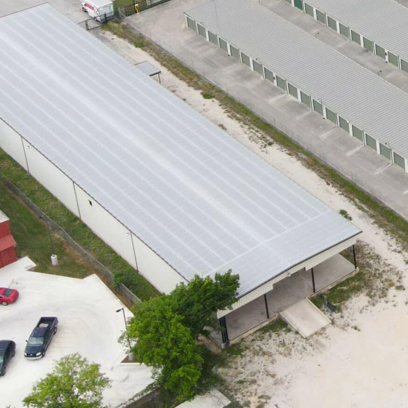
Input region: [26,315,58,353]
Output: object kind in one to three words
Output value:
truck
